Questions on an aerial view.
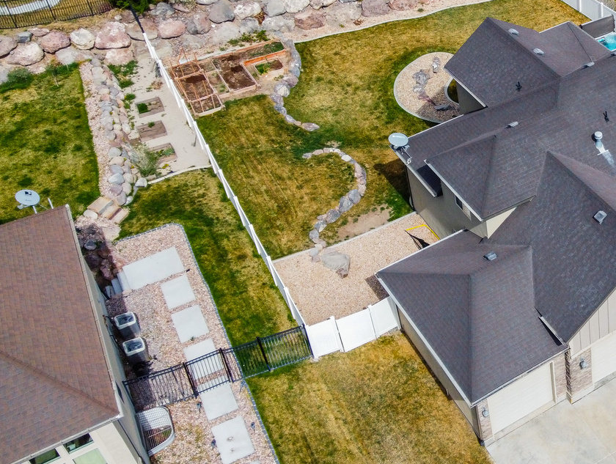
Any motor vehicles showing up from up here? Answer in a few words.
No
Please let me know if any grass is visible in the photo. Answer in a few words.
Yes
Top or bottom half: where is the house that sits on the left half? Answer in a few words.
bottom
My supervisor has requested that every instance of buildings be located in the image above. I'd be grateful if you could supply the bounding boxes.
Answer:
[373,18,616,452]
[0,206,138,464]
